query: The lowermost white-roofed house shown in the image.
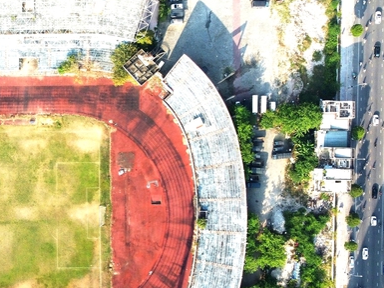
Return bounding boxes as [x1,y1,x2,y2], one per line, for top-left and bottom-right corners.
[303,179,353,194]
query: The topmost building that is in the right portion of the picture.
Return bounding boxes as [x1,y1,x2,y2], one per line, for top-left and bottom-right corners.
[306,101,359,120]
